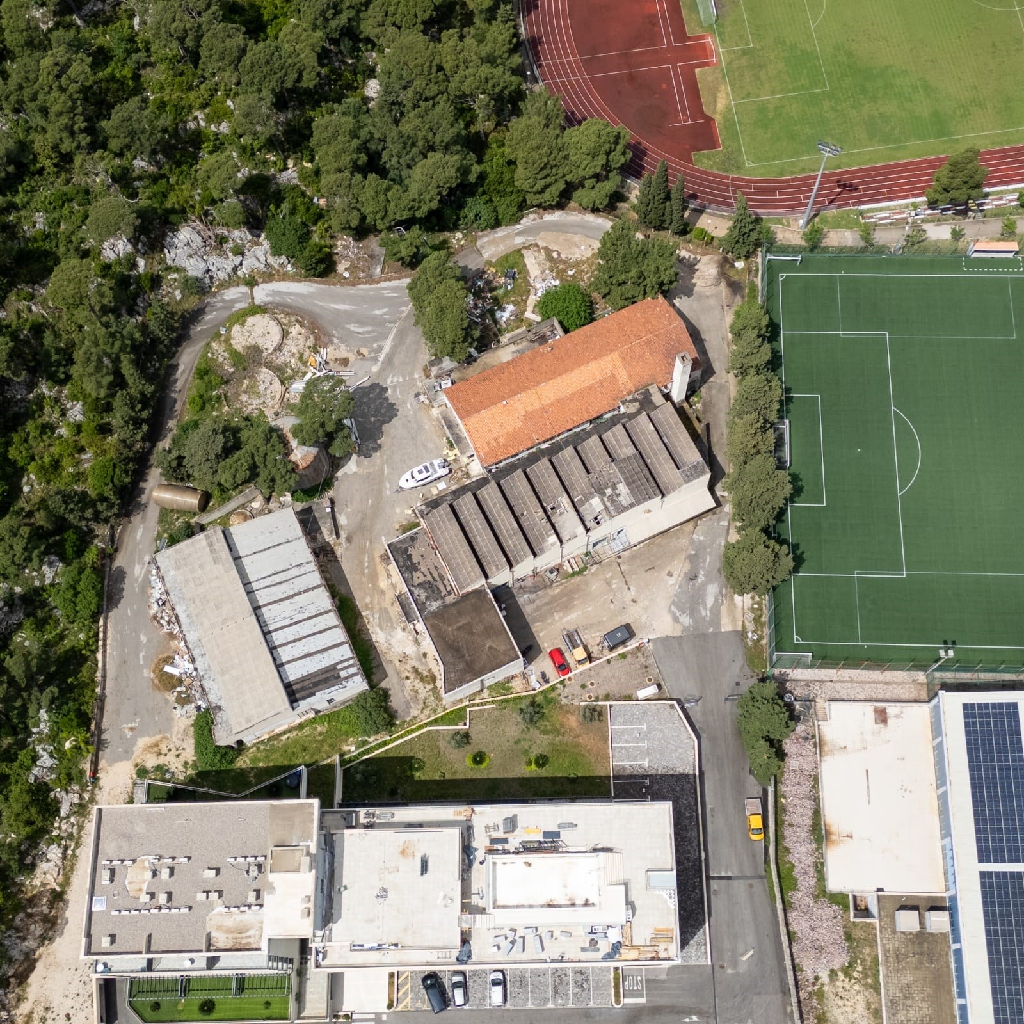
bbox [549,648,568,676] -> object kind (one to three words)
car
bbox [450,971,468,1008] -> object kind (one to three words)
car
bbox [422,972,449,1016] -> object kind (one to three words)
vehicle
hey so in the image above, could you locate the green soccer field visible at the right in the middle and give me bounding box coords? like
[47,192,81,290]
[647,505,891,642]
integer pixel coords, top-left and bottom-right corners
[752,251,1024,676]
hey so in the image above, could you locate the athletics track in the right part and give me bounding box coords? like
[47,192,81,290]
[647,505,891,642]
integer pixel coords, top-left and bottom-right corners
[525,0,1024,216]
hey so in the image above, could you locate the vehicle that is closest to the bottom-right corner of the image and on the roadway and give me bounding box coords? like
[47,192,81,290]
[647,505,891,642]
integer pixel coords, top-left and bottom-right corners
[747,798,764,840]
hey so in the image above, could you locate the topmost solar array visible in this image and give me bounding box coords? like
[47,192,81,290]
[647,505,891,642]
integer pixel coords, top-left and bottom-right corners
[963,702,1024,863]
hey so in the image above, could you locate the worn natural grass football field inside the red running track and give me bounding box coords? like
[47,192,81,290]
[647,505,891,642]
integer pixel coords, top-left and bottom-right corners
[680,0,1024,178]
